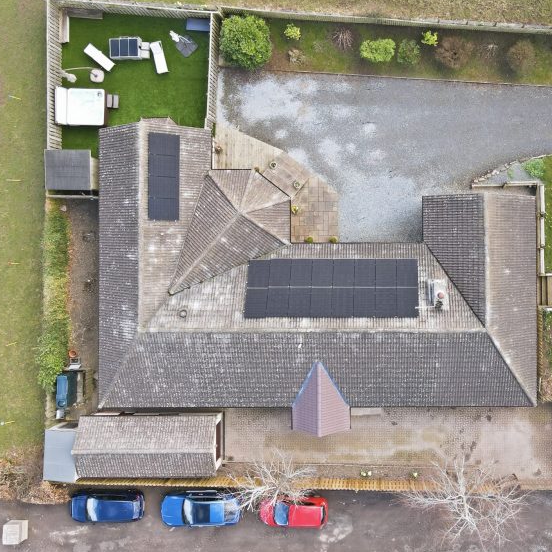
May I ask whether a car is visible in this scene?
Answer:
Yes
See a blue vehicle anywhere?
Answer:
Yes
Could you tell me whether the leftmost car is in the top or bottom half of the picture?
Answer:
bottom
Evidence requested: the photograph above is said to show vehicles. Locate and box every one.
[260,494,328,532]
[162,490,241,531]
[72,488,147,527]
